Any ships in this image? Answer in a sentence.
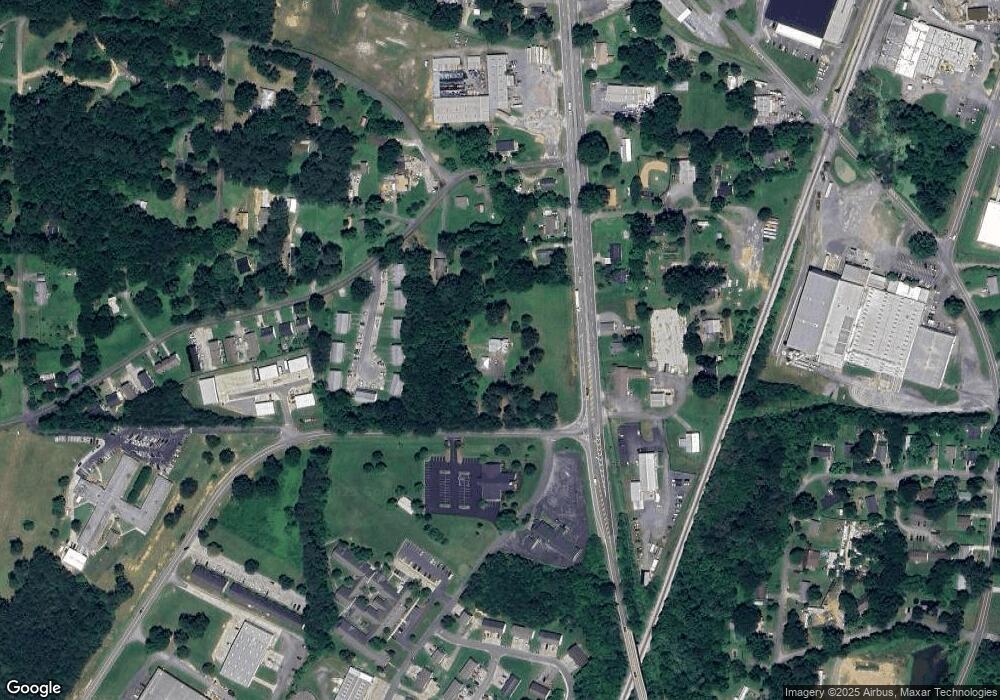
No, this view has no ship in it.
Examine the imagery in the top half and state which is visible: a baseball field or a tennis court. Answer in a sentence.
The feature located in the top half is a baseball field.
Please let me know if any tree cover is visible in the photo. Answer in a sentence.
Yes, the picture does contain tree cover.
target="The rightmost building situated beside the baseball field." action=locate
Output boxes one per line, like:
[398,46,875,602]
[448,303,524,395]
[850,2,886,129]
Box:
[679,160,697,185]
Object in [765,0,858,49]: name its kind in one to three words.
building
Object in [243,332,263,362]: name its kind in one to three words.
house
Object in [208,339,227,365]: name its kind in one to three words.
house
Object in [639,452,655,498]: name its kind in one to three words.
building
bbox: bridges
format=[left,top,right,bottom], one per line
[622,630,646,700]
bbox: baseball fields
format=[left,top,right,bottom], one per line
[628,156,677,197]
